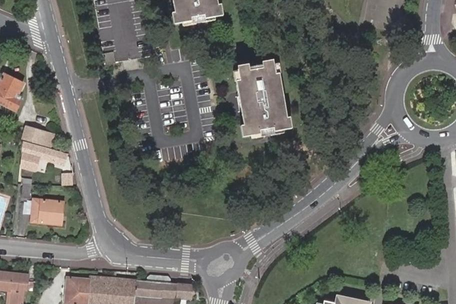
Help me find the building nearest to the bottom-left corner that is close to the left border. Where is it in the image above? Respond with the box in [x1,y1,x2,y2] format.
[0,270,32,304]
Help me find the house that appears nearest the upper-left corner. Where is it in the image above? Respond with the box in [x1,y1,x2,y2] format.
[0,72,26,112]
